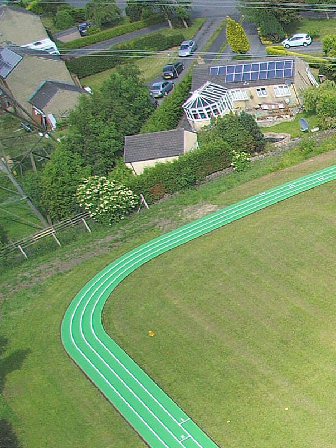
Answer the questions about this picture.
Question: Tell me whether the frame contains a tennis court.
No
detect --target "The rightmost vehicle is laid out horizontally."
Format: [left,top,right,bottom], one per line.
[281,33,312,48]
